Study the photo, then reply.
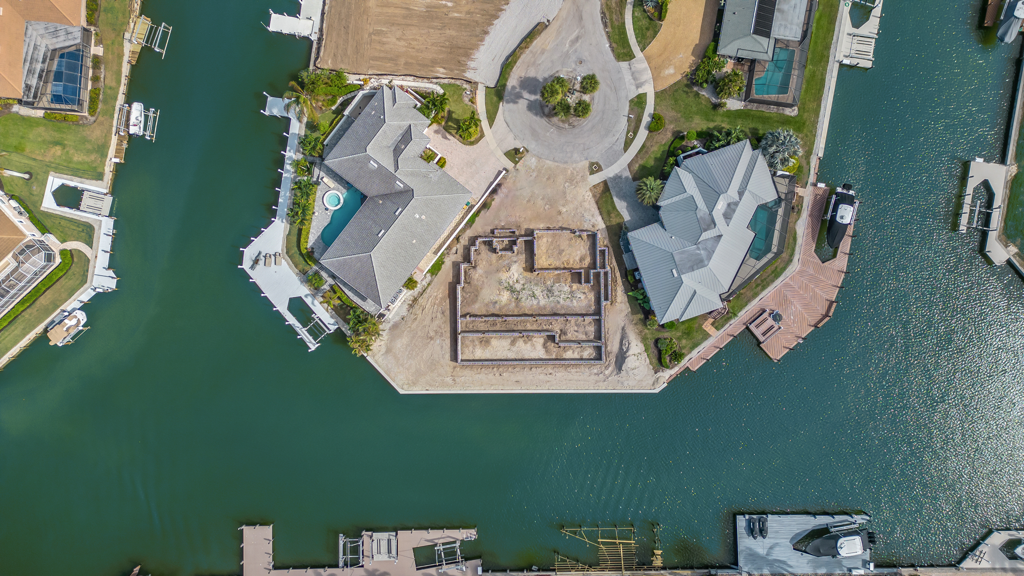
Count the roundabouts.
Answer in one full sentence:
Altogether the scene contains 1 roundabout.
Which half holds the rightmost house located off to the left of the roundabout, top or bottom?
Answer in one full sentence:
Seen from above, the rightmost house located off to the left of the roundabout lies in the top half of the view.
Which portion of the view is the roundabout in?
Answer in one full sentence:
The roundabout is located in the top region of the scene.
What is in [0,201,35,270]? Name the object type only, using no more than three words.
house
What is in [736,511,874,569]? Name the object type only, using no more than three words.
pier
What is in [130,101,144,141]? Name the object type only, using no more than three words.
boat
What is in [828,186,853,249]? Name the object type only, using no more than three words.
boat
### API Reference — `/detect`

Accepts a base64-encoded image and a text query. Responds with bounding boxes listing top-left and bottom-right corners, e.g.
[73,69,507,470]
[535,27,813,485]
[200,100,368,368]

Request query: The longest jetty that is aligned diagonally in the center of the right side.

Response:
[677,187,859,376]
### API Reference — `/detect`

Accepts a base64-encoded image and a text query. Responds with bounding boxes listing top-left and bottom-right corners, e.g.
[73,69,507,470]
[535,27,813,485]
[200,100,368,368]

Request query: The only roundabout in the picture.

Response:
[503,37,630,164]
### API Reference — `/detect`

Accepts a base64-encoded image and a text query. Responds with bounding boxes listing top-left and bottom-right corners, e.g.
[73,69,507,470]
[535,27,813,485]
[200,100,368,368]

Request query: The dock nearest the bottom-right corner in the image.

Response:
[951,526,1024,571]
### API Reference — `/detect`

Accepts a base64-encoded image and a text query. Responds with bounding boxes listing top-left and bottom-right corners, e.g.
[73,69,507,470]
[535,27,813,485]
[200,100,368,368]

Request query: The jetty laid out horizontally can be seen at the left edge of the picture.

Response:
[42,177,116,220]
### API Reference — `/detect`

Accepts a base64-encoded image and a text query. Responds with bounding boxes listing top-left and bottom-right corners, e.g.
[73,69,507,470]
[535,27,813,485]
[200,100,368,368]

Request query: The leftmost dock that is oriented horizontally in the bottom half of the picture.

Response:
[239,521,483,576]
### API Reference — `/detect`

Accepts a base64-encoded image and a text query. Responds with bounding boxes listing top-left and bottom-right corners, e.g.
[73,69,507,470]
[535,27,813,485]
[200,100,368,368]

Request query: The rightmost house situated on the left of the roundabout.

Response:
[319,85,473,309]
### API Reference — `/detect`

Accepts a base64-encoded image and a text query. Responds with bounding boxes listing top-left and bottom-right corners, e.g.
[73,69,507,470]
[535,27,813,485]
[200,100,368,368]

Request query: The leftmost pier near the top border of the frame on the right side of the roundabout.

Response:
[839,0,885,72]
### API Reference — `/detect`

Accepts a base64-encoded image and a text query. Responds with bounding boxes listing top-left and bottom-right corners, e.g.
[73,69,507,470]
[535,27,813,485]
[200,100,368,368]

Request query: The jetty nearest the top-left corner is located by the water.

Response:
[128,17,151,68]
